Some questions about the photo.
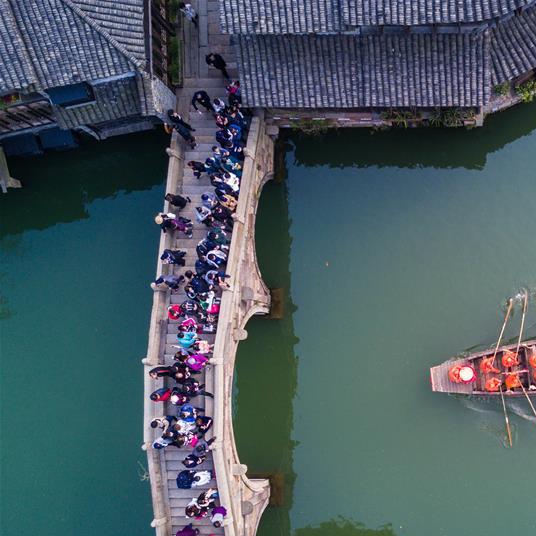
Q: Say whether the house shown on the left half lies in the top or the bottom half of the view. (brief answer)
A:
top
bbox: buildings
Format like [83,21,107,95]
[0,0,175,164]
[210,0,536,124]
